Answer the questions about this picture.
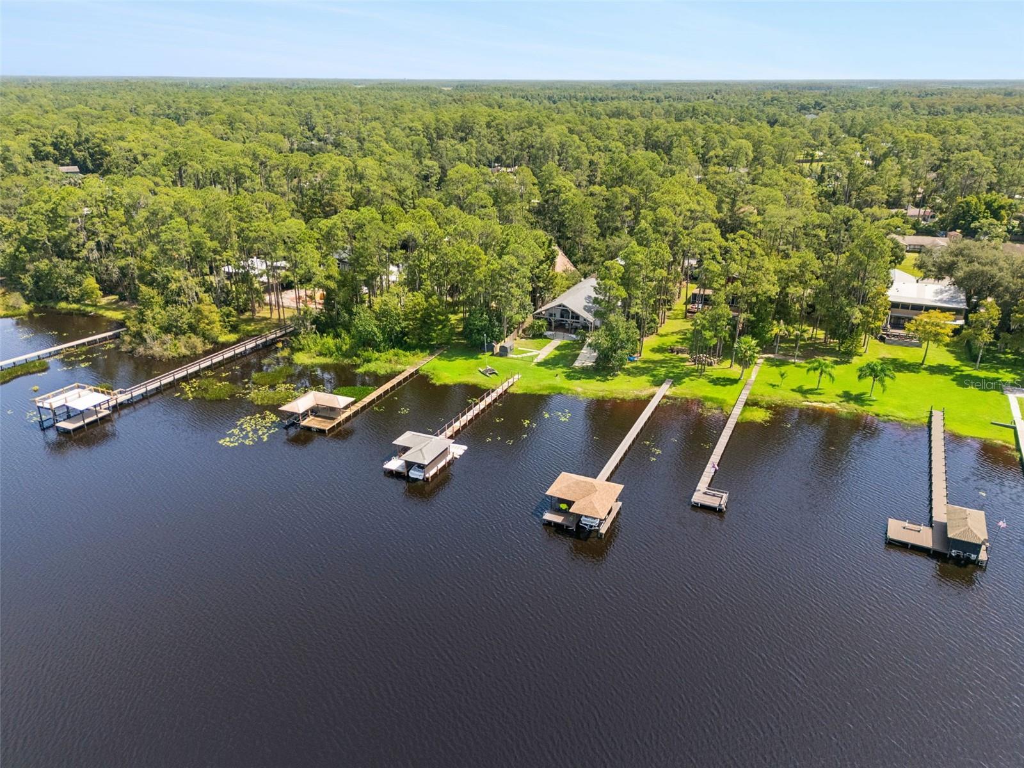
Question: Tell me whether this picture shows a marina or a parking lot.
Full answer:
The area seen from above is a marina.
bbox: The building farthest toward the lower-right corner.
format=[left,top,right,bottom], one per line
[886,504,989,567]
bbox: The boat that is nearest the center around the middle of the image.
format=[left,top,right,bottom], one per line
[477,338,502,374]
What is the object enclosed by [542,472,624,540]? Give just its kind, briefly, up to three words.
building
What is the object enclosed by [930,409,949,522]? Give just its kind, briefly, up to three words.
pier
